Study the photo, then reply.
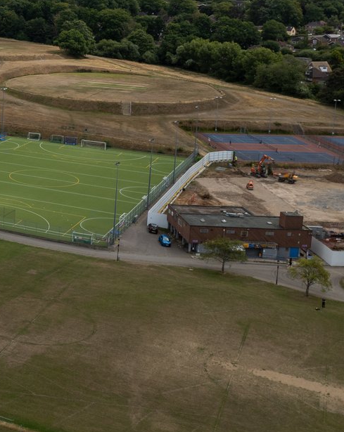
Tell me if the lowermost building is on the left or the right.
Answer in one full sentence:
You can find the lowermost building on the right side of the picture.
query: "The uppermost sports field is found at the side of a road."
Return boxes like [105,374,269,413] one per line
[0,136,191,243]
